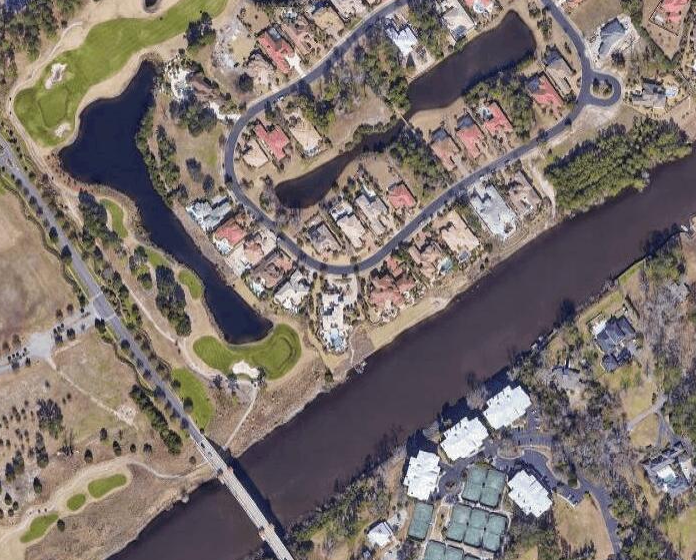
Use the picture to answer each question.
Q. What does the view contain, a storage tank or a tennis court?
tennis court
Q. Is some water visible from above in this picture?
Yes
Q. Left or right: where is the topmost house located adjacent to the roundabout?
right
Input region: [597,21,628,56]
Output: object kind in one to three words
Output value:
house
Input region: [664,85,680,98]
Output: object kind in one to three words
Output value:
swimming pool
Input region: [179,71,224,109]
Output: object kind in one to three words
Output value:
house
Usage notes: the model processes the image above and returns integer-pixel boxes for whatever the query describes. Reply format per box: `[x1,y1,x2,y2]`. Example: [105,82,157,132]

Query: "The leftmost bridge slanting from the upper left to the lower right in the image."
[195,436,293,560]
